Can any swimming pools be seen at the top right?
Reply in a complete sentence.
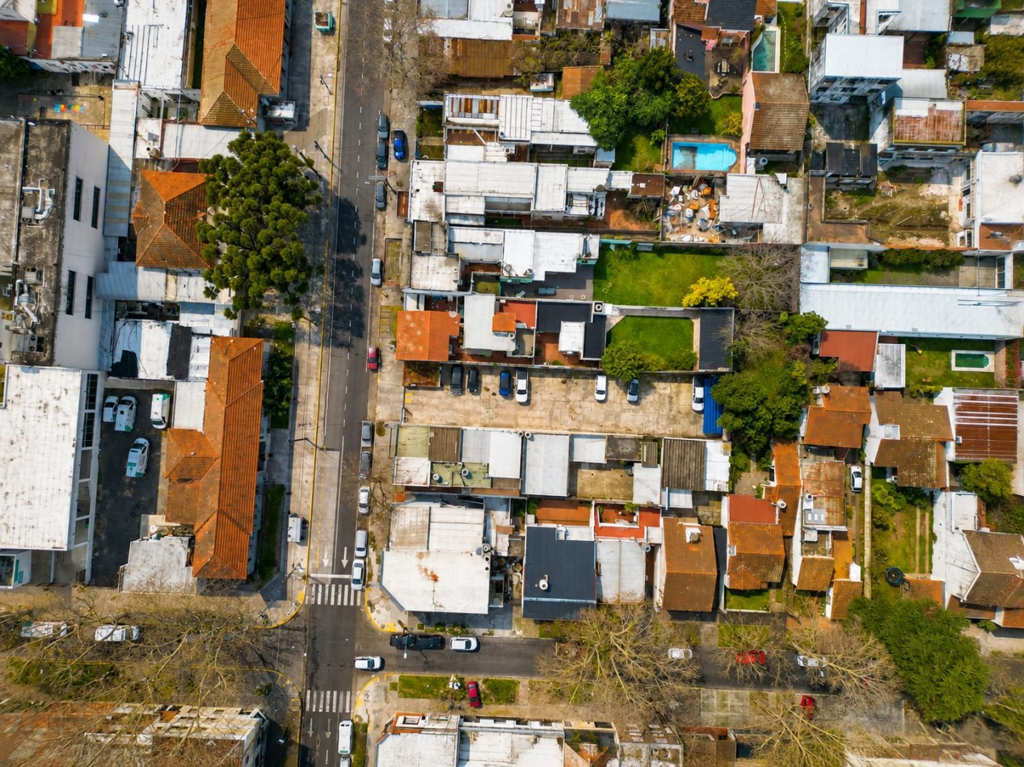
Yes, a swimming pool is visible at the top right.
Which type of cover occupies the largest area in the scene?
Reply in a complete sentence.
For the most part, this view shows buildings.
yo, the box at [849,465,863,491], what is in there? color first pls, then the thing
white car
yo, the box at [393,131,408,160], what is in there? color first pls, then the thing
blue car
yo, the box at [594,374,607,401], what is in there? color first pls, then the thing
white vehicle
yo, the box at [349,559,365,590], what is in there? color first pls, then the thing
white car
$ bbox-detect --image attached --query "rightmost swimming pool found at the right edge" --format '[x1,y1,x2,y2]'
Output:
[954,349,996,372]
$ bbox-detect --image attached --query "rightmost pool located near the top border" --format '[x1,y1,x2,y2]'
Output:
[750,23,782,73]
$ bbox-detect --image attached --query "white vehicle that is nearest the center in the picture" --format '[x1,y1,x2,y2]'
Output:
[517,370,531,403]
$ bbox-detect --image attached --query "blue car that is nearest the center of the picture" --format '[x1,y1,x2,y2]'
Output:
[499,371,512,396]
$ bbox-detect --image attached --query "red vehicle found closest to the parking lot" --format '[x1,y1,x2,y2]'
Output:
[366,346,379,371]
